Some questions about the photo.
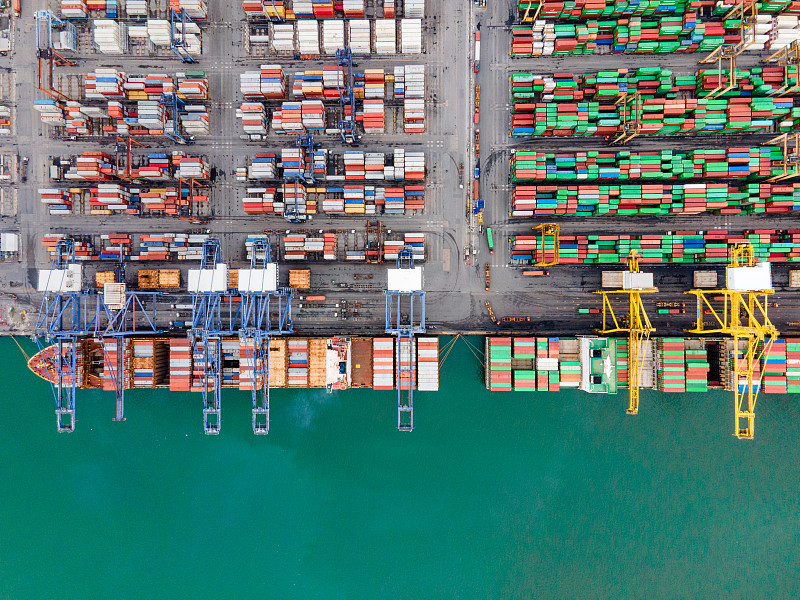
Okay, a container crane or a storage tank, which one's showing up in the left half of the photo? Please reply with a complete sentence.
The feature located in the left half of the photo is a container crane.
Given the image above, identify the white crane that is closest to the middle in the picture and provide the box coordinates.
[385,248,427,432]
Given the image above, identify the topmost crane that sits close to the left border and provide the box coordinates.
[35,11,78,68]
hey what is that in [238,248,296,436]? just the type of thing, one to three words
container crane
